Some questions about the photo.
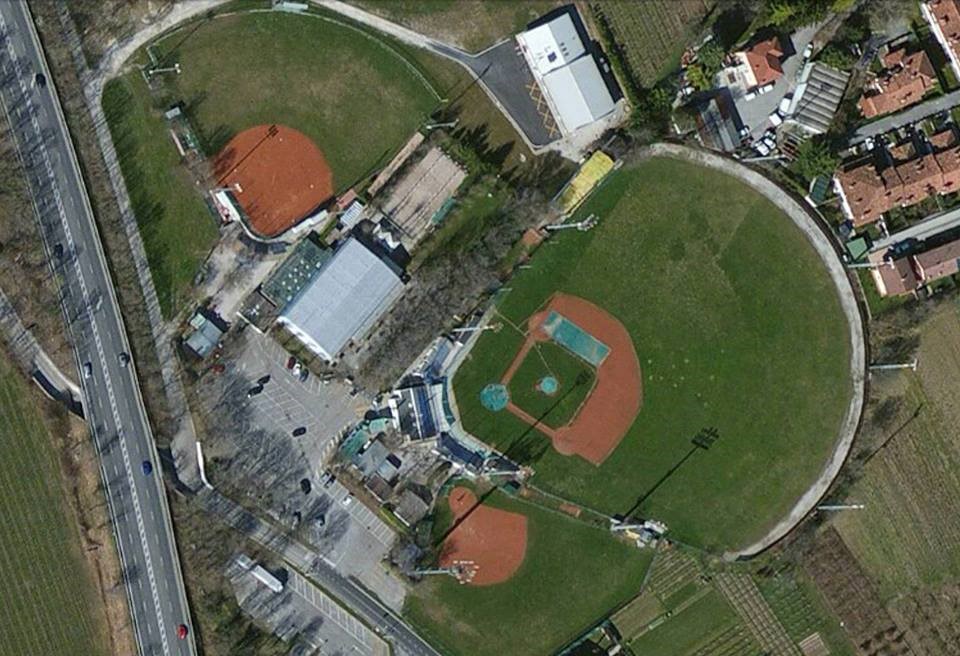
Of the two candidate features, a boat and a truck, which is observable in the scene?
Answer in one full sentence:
Of the two, only a truck appears.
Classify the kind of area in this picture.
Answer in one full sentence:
The picture captures a sports ground.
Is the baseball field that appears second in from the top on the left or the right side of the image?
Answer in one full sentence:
You can find the baseball field that appears second in from the top on the right side of the picture.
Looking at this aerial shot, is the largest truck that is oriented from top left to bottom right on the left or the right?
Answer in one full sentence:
The largest truck that is oriented from top left to bottom right appears in the left half of the scene.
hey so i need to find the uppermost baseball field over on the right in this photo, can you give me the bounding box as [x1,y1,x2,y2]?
[454,142,866,562]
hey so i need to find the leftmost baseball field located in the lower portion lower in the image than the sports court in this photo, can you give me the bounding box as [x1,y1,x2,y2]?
[404,481,656,656]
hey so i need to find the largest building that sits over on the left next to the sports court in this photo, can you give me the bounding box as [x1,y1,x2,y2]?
[272,237,404,365]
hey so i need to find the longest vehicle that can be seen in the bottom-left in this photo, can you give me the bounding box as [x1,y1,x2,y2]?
[239,555,282,590]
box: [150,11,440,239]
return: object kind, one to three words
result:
baseball field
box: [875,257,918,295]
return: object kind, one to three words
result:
house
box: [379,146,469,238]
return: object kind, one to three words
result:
sports court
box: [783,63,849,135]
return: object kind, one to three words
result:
building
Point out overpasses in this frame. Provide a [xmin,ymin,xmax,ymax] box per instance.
[80,378,166,492]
